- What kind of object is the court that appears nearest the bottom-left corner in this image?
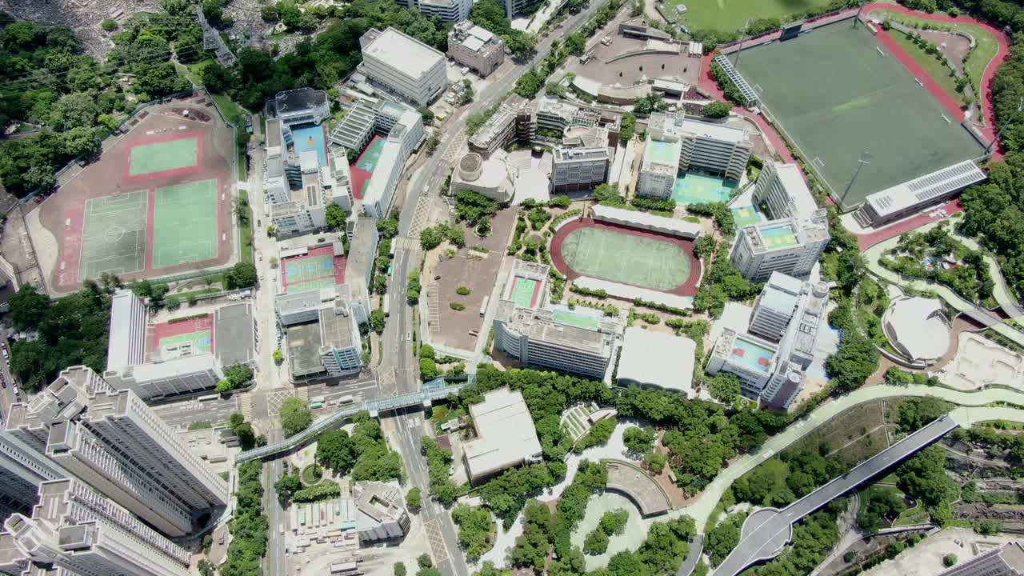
basketball court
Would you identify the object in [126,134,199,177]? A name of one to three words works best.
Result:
basketball court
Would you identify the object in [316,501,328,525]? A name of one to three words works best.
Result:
vehicle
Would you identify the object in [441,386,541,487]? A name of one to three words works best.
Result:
building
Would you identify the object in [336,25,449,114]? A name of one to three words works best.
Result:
building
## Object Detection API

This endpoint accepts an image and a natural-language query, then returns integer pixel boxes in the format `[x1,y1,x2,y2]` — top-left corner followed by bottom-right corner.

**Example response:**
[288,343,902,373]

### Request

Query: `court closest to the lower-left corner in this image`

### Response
[153,313,214,362]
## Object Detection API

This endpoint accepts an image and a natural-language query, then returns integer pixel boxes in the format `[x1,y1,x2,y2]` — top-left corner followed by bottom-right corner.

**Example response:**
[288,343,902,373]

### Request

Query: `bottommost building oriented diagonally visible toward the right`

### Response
[601,456,672,515]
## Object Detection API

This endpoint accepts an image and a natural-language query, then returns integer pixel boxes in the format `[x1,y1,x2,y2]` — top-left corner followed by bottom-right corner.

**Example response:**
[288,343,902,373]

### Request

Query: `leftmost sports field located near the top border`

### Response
[669,0,844,43]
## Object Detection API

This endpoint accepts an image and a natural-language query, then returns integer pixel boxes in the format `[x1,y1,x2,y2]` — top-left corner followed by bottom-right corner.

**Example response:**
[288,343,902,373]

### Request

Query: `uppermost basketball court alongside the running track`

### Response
[670,170,739,205]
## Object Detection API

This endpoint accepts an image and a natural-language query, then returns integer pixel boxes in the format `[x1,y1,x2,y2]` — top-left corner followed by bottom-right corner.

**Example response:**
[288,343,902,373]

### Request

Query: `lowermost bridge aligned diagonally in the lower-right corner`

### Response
[713,410,969,576]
